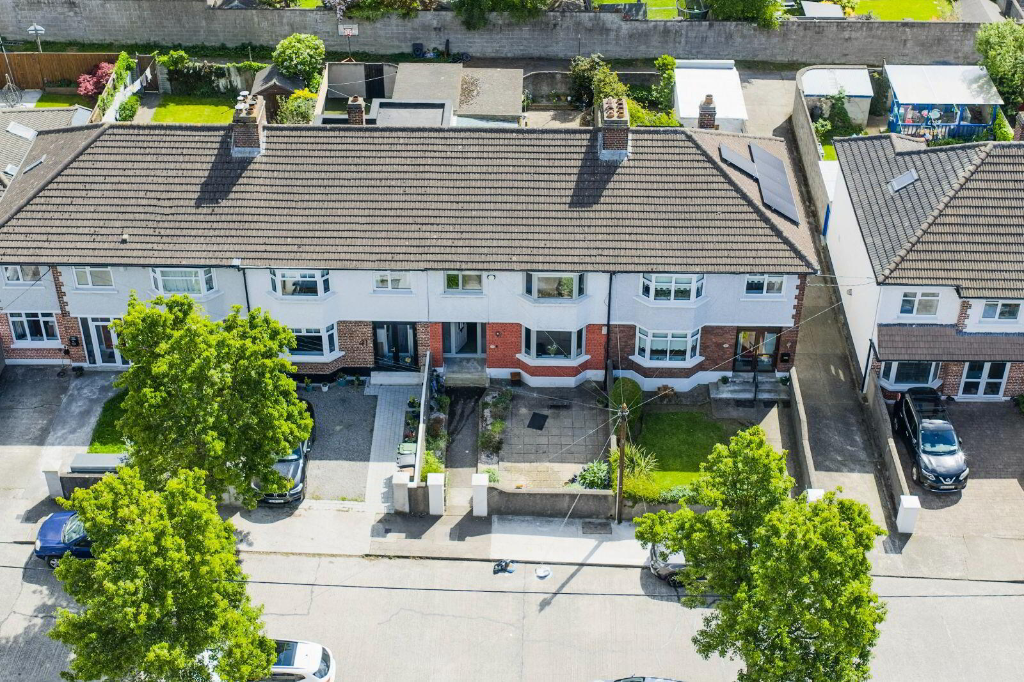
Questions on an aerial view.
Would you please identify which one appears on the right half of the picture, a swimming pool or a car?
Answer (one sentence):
The one visible on the right half of the picture is a car.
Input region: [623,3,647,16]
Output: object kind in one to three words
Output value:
shed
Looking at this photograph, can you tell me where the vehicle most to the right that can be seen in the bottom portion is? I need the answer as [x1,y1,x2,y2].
[892,390,971,493]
